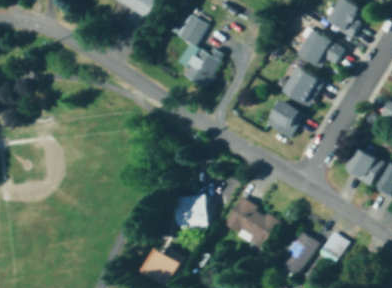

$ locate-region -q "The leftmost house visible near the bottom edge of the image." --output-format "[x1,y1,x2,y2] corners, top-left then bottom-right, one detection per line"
[142,245,181,284]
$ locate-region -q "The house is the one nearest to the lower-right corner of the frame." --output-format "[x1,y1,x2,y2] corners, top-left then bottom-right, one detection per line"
[318,231,350,264]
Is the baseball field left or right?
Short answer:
left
